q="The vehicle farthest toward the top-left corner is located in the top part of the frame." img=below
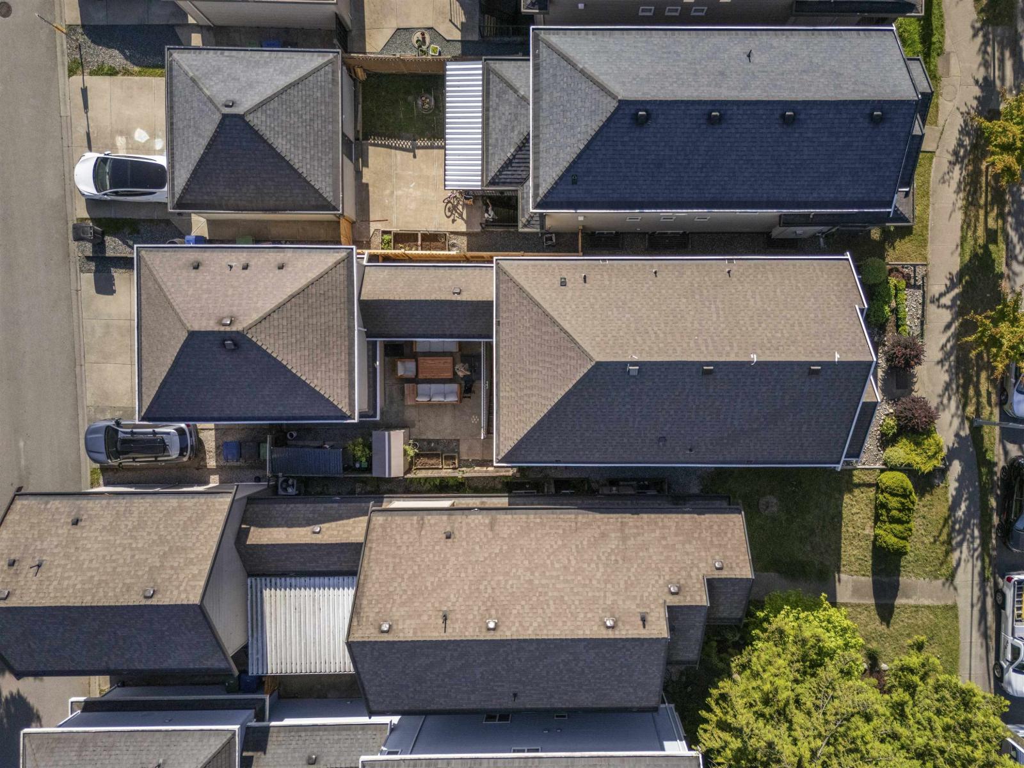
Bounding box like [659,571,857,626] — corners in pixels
[75,148,169,203]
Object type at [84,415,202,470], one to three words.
car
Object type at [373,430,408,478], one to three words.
shed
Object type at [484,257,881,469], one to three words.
house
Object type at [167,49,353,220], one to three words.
building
